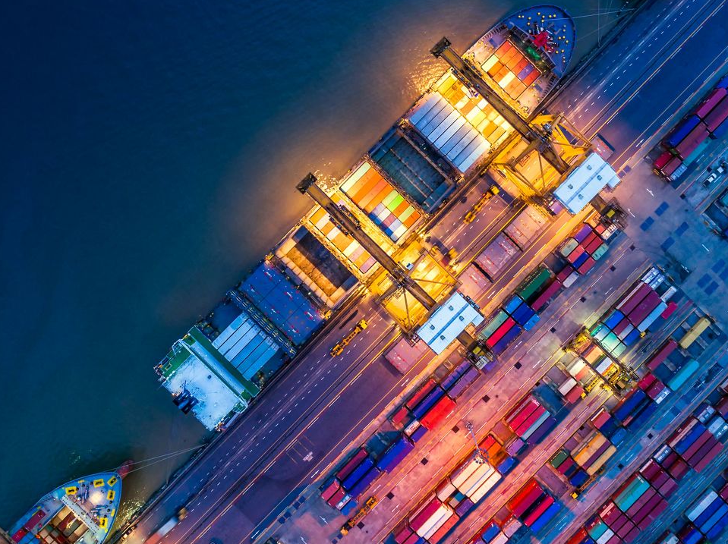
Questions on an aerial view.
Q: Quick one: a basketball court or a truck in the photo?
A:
truck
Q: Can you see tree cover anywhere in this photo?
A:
No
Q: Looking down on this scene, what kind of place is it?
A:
port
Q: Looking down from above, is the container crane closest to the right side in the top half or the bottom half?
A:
bottom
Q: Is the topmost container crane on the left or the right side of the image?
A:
right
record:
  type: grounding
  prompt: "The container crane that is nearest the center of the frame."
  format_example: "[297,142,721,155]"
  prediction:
[293,171,499,373]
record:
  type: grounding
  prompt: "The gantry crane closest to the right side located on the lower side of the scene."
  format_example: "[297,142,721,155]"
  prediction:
[561,324,643,401]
